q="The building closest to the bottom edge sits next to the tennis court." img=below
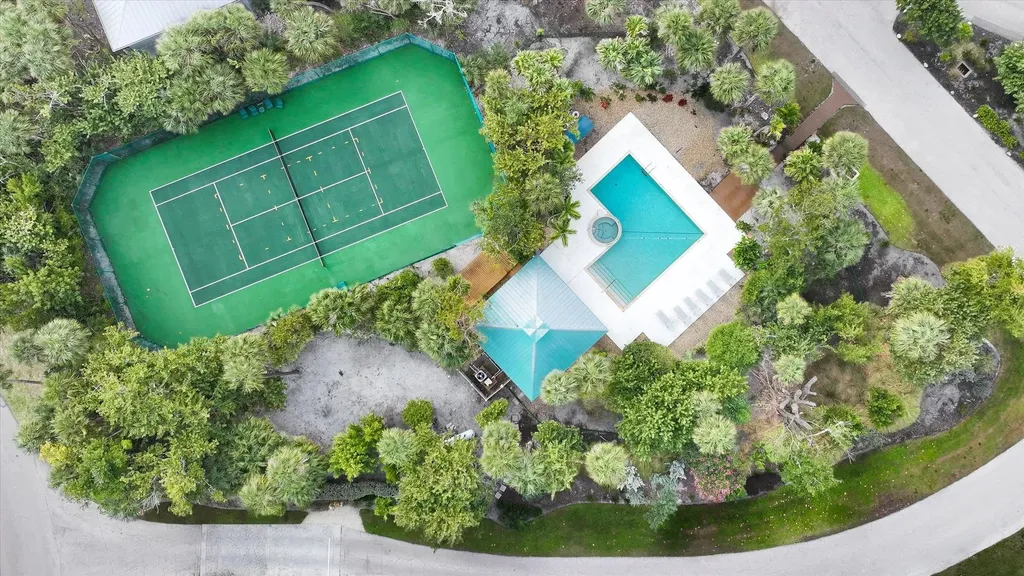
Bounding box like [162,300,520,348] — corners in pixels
[462,254,608,402]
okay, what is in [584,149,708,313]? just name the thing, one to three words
swimming pool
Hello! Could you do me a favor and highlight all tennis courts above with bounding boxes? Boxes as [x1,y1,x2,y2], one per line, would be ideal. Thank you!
[89,44,495,349]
